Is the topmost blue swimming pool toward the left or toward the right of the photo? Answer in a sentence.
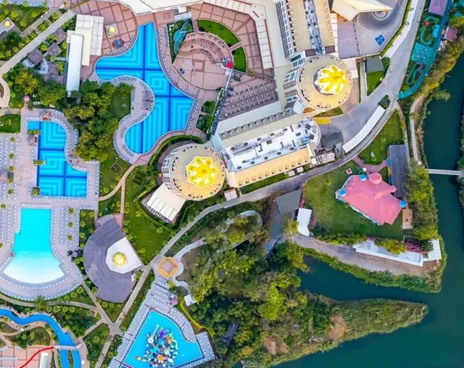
It is on the left.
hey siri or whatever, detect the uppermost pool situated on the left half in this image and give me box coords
[95,21,195,155]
